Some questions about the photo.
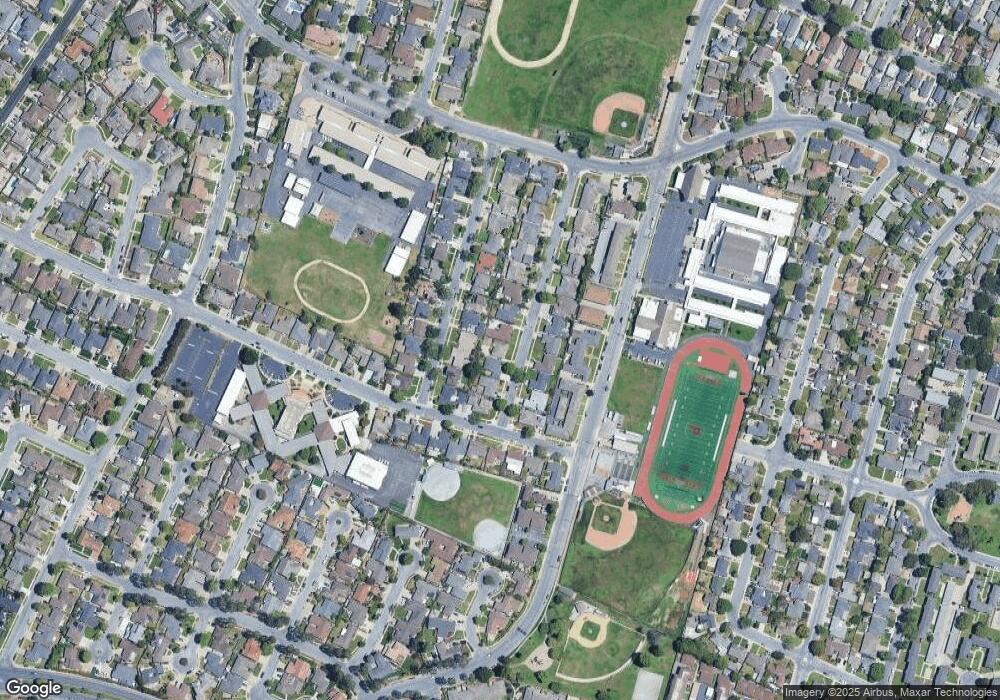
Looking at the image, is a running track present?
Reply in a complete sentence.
Yes, a running track can be made out from above.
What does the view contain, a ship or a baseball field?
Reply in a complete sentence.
Of the two, only a baseball field appears.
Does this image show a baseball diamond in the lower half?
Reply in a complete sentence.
Yes, the scene does show a baseball diamond in the lower half.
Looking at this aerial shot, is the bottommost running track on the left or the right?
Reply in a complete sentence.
The bottommost running track sits on the right side.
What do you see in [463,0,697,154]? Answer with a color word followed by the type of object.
green sports field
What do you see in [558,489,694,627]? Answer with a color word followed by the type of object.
green sports field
